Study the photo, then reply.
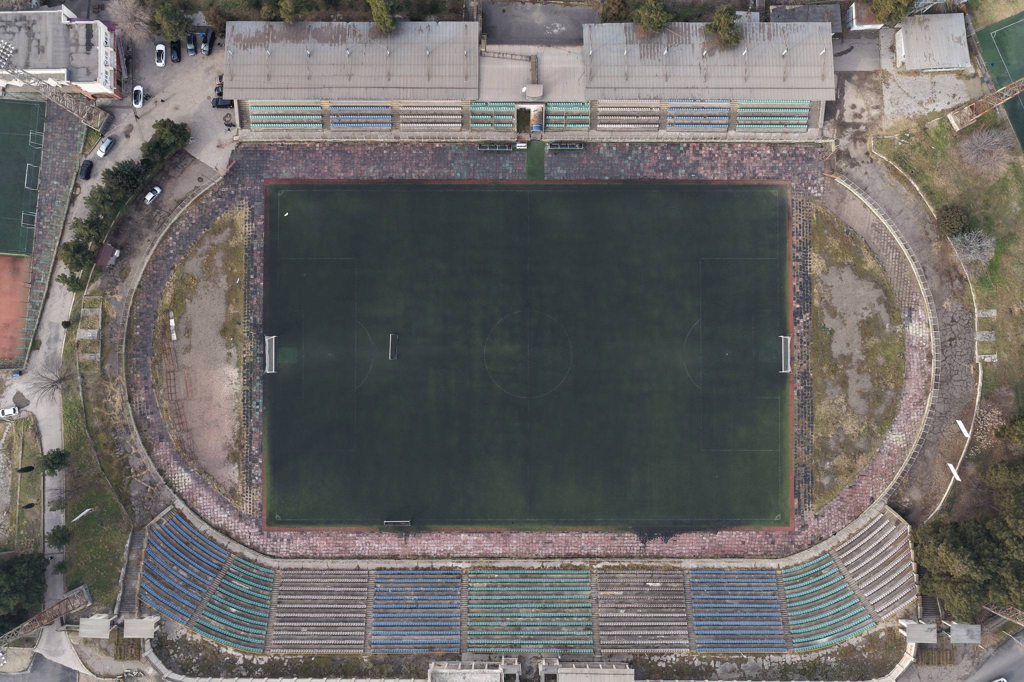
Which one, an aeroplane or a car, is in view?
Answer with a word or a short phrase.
car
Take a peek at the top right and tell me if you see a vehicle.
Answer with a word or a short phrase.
No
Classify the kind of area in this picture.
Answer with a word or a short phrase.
sports ground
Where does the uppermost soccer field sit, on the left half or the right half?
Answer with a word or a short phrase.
right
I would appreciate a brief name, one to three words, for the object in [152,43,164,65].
vehicle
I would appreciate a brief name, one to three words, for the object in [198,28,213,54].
car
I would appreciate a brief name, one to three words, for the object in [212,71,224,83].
vehicle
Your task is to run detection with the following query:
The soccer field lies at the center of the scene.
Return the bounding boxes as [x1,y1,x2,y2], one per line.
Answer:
[260,180,795,544]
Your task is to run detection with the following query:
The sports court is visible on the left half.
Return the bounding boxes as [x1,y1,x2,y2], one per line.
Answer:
[0,254,31,368]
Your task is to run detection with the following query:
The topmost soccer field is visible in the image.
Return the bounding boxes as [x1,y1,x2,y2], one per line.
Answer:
[974,8,1024,150]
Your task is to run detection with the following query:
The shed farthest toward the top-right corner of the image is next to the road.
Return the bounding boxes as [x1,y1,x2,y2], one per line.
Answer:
[890,13,971,75]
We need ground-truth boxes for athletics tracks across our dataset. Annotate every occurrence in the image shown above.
[127,141,936,559]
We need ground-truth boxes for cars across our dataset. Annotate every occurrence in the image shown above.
[209,96,231,108]
[77,157,92,180]
[130,84,142,106]
[167,37,180,61]
[152,43,164,65]
[184,32,196,55]
[211,84,224,95]
[141,184,160,205]
[0,407,17,418]
[95,134,114,157]
[212,71,224,83]
[198,28,213,54]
